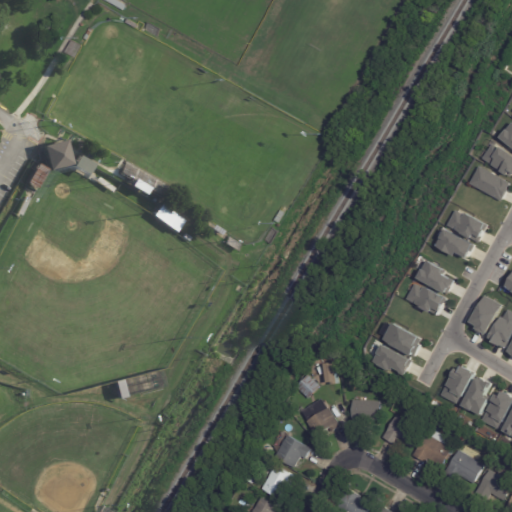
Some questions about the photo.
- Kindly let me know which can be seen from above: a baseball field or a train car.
baseball field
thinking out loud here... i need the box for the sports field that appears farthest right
[236,0,400,130]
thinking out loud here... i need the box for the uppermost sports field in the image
[128,0,273,64]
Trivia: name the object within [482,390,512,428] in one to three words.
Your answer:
house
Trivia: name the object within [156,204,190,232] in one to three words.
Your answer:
building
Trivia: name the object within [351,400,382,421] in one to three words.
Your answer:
house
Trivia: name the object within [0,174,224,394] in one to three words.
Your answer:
baseball field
